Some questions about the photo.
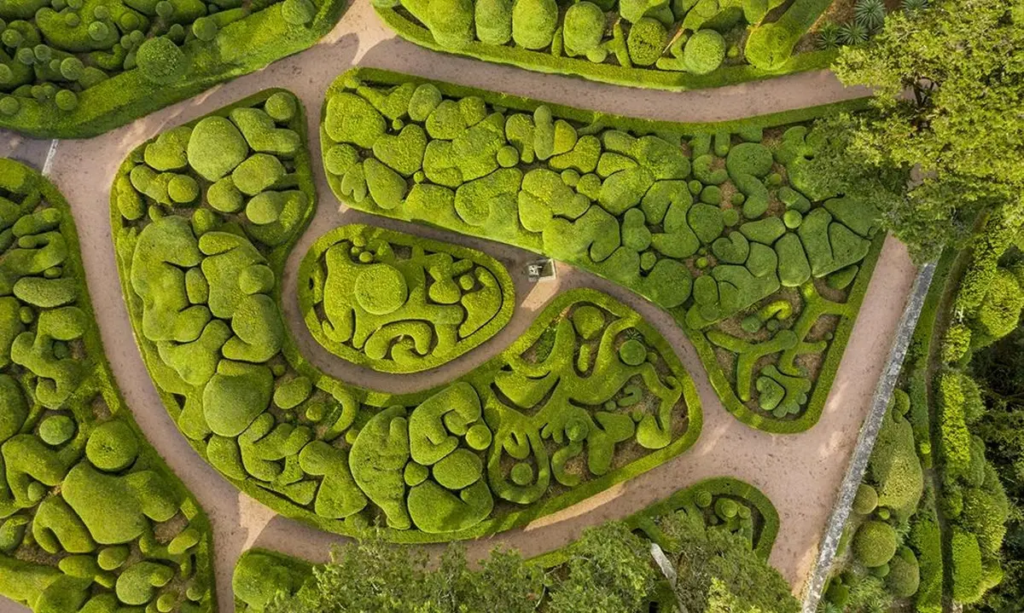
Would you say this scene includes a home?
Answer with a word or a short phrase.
No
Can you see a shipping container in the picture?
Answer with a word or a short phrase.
No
